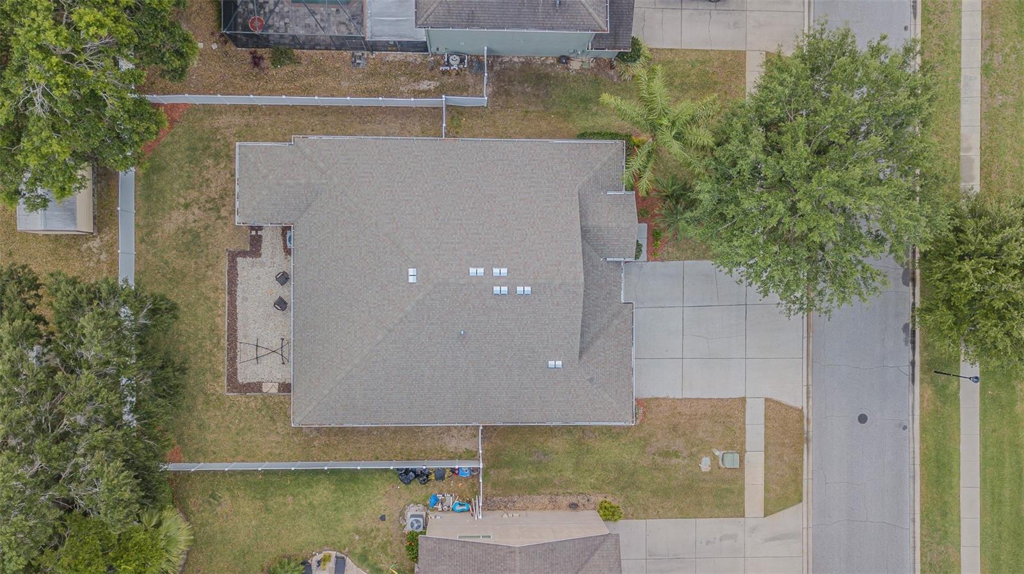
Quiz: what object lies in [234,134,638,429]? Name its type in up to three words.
house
